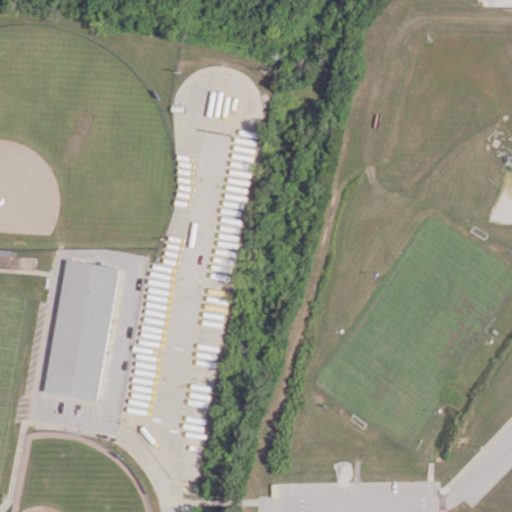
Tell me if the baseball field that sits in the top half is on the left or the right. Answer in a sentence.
The baseball field that sits in the top half appears in the left half of the scene.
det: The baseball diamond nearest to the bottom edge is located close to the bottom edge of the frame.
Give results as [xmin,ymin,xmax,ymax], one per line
[13,432,150,512]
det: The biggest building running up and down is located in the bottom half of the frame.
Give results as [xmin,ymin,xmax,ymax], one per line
[44,260,120,401]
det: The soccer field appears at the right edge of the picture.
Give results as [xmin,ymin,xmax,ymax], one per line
[322,220,512,444]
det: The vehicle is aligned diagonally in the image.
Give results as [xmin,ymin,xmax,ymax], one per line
[140,426,158,448]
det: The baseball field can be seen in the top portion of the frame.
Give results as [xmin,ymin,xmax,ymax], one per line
[0,26,173,248]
